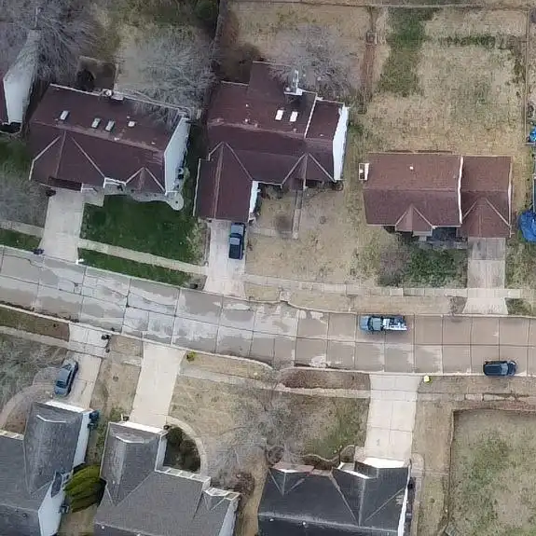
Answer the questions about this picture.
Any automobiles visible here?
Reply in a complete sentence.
Yes, I can see an automobile in this picture.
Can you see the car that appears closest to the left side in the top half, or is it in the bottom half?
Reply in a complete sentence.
The bottom half of the photo is where the car that appears closest to the left side is.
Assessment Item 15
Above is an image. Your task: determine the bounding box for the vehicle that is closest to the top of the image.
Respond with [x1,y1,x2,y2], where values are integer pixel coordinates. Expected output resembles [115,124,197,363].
[227,221,248,260]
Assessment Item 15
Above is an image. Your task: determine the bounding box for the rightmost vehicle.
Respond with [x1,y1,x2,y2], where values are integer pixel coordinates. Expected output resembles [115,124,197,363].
[484,360,516,376]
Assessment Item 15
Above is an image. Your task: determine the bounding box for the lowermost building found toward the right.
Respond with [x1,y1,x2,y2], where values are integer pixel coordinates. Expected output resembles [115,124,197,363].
[256,459,412,536]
